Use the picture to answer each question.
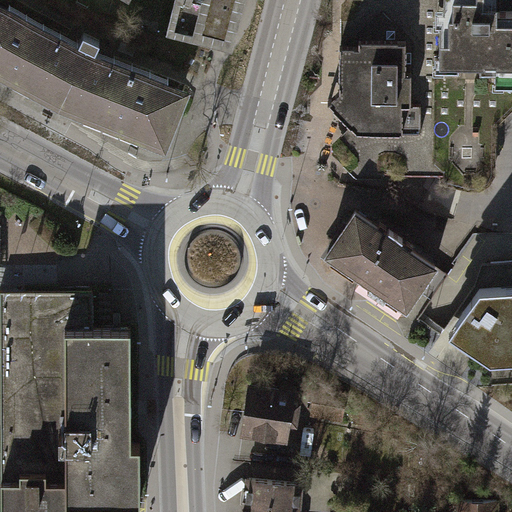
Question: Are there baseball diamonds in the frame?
No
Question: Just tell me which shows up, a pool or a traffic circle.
traffic circle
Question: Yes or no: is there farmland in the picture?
No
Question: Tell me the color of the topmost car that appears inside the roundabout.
black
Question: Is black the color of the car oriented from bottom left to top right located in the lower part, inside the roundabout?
Yes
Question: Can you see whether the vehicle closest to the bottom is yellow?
No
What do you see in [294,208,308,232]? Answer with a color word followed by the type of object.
white vehicle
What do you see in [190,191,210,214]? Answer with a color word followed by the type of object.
black car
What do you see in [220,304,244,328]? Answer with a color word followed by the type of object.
black car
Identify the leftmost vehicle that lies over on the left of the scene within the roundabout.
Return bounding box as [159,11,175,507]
[161,288,182,309]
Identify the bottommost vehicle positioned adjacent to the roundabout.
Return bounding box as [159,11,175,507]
[196,341,210,368]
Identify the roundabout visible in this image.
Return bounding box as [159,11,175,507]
[138,188,286,336]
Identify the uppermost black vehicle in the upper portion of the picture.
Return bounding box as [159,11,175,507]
[276,102,289,130]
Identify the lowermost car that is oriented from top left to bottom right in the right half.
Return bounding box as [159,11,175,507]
[304,289,329,310]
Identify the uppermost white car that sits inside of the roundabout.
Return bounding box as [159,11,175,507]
[255,228,272,248]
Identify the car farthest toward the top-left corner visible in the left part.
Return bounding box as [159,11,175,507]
[22,172,47,190]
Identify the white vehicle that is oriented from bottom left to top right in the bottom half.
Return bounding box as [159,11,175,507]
[216,476,246,503]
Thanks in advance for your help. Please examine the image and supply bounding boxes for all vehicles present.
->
[190,416,202,443]
[304,289,329,310]
[276,102,289,130]
[220,304,244,328]
[216,476,246,503]
[161,288,182,309]
[254,304,273,314]
[190,191,210,214]
[196,341,210,368]
[228,410,242,436]
[22,172,47,190]
[294,208,308,232]
[316,149,329,172]
[100,214,129,237]
[255,228,272,248]
[300,424,315,458]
